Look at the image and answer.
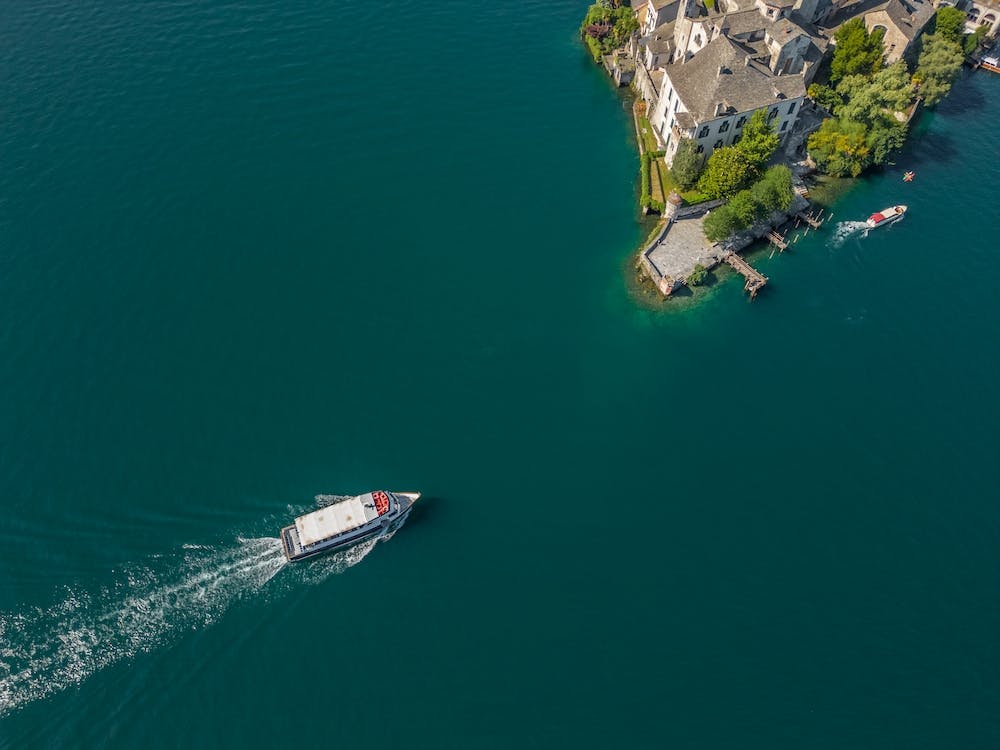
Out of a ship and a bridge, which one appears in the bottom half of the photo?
ship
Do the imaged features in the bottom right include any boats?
No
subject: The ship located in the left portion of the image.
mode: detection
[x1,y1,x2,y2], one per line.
[282,491,423,564]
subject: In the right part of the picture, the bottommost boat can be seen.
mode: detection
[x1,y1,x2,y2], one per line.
[865,205,906,229]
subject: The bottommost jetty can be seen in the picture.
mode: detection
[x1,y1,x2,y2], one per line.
[731,252,769,293]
